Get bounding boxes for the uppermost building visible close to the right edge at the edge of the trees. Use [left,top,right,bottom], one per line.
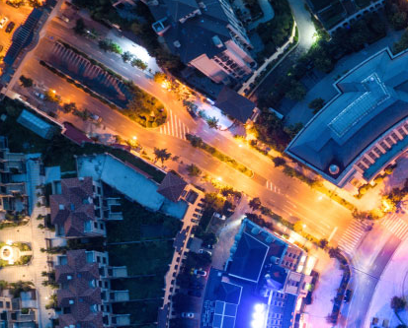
[284,46,408,194]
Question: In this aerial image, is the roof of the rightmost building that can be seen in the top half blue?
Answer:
Yes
